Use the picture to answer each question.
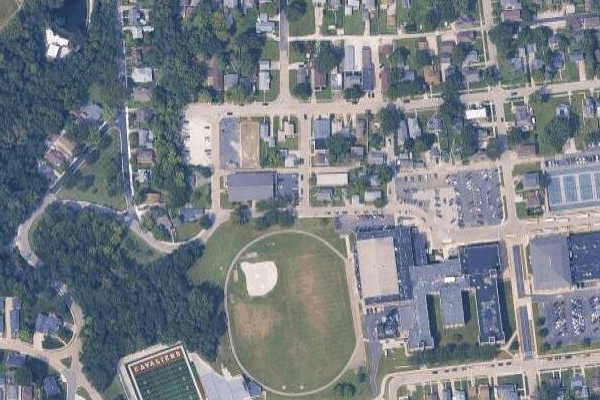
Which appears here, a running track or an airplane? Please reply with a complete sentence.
There is a running track in the scene.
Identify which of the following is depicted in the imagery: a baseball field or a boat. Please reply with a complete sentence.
The one in the frame is a baseball field.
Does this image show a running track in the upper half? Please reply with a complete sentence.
No, no running track is visible in the upper half.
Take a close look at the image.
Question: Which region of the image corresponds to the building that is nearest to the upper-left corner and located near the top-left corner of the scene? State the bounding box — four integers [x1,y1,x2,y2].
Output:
[45,27,70,59]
